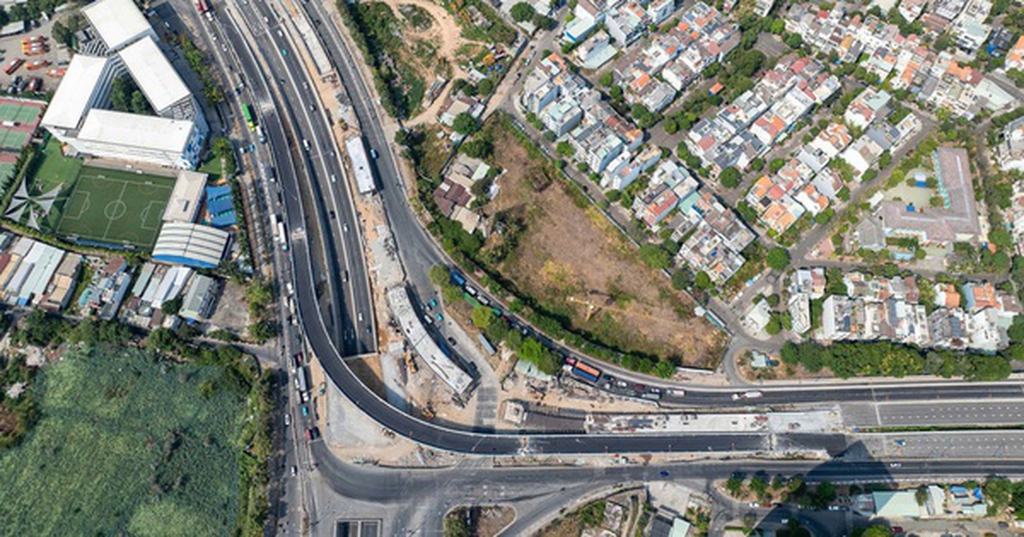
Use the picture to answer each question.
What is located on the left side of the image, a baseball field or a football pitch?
football pitch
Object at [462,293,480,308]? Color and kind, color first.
green vehicle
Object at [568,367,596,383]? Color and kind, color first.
blue vehicle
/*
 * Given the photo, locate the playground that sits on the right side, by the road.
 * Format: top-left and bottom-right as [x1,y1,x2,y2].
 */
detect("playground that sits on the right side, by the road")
[885,167,938,213]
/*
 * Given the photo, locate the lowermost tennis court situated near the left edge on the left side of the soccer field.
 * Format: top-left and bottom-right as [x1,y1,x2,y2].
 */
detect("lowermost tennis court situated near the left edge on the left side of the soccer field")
[0,152,26,182]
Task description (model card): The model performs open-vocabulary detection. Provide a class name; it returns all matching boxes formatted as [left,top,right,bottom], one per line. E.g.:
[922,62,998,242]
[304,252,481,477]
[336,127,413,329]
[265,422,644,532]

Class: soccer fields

[49,164,178,252]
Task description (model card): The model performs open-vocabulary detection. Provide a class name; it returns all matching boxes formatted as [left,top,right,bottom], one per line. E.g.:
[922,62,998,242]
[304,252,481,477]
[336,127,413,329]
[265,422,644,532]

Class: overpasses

[211,0,846,457]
